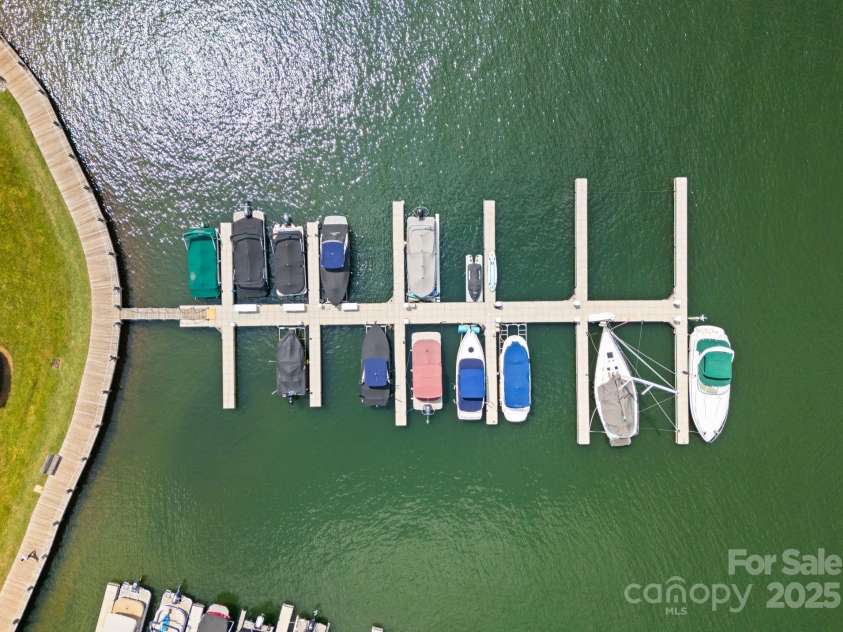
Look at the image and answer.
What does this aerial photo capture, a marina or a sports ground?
marina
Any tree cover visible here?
No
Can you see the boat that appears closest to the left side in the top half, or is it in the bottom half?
bottom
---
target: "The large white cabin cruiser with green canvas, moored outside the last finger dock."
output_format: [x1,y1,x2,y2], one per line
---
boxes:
[688,323,734,444]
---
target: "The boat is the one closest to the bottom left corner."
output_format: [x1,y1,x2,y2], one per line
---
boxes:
[109,578,157,632]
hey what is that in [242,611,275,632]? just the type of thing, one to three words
boat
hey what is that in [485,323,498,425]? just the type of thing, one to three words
pier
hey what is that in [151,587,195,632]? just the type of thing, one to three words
boat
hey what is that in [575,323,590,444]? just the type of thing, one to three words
pier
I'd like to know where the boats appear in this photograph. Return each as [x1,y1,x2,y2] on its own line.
[151,587,195,632]
[359,323,394,407]
[409,332,443,422]
[405,207,438,301]
[272,218,308,297]
[292,612,330,632]
[590,324,676,450]
[320,216,352,308]
[488,250,497,292]
[196,597,232,632]
[242,611,275,632]
[453,328,487,421]
[181,221,222,300]
[498,335,532,423]
[226,201,268,299]
[109,578,157,632]
[688,323,734,444]
[277,328,307,408]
